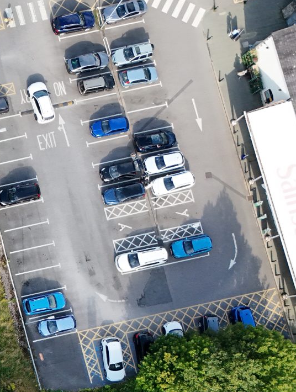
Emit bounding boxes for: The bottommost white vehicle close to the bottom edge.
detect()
[100,337,126,382]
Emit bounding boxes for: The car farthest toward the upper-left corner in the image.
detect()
[51,8,98,36]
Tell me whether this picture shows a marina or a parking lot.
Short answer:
parking lot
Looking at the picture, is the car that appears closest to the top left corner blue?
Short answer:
Yes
